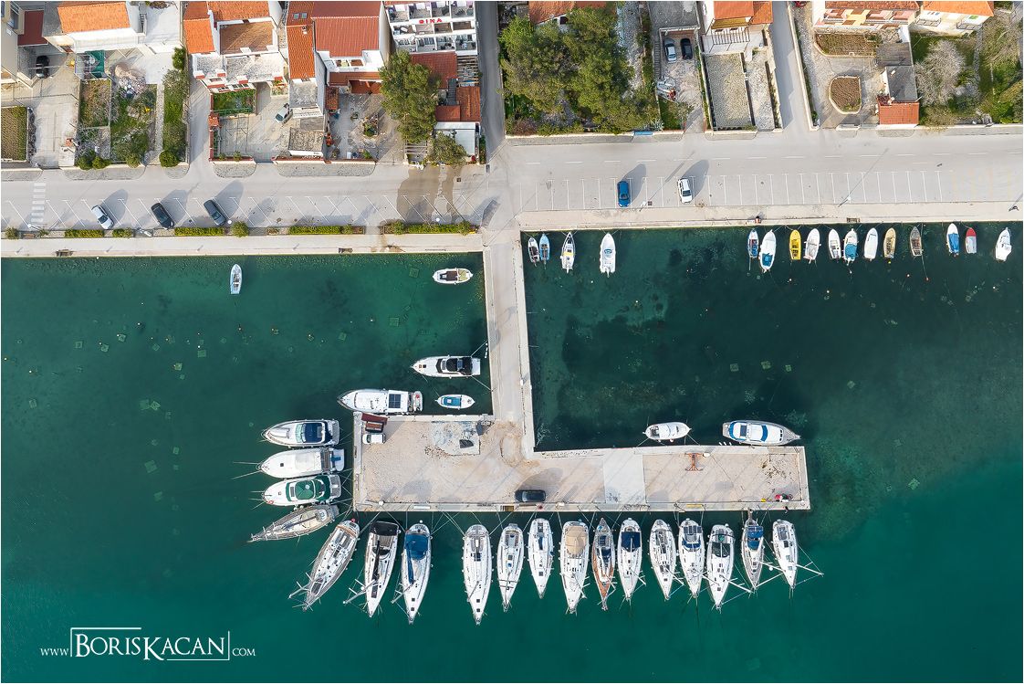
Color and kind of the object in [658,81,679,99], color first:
gray boat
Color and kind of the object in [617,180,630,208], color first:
blue vehicle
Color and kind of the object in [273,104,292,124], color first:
white car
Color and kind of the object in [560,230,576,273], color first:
white boat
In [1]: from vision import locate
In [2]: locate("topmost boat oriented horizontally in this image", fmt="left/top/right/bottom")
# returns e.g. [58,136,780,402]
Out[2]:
[433,267,472,286]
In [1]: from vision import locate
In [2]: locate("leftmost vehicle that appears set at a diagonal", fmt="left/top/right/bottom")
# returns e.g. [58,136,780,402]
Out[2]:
[88,203,116,231]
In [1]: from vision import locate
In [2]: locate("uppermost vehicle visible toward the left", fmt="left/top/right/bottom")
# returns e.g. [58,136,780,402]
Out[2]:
[36,54,51,80]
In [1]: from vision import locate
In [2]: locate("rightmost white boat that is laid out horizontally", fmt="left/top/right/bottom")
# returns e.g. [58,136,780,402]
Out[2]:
[718,420,805,449]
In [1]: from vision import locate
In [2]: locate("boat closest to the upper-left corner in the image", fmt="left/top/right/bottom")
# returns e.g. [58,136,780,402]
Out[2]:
[230,264,242,299]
